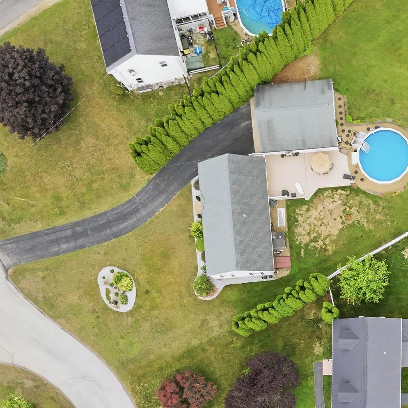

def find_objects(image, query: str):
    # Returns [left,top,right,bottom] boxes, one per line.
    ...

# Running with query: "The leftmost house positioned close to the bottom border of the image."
[331,316,402,408]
